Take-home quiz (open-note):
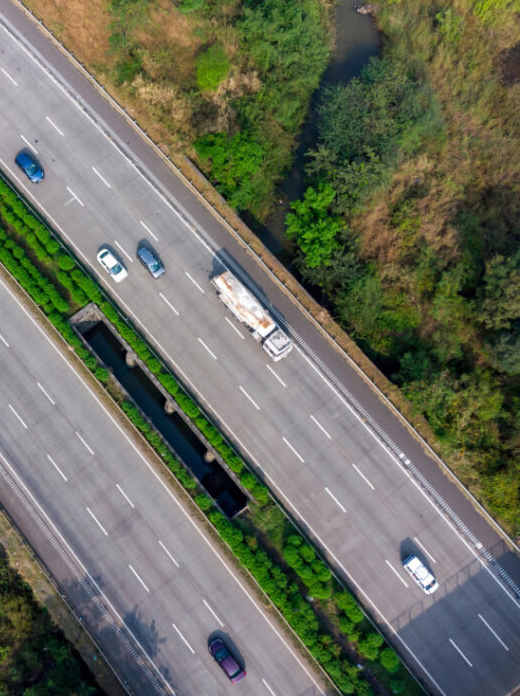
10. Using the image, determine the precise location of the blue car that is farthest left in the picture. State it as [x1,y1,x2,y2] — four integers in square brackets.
[12,151,45,185]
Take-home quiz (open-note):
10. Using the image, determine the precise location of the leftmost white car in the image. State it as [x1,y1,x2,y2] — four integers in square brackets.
[95,246,131,284]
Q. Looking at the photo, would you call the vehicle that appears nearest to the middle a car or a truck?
truck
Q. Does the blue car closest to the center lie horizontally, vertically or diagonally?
diagonally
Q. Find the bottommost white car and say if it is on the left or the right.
right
